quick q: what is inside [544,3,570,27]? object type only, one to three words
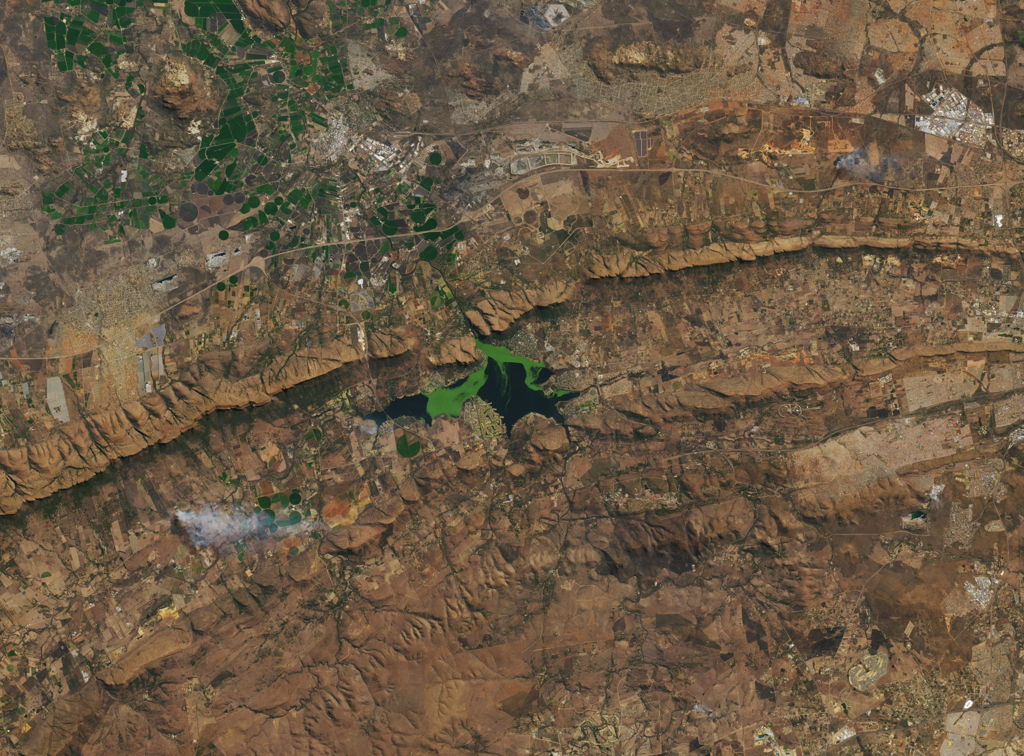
dam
